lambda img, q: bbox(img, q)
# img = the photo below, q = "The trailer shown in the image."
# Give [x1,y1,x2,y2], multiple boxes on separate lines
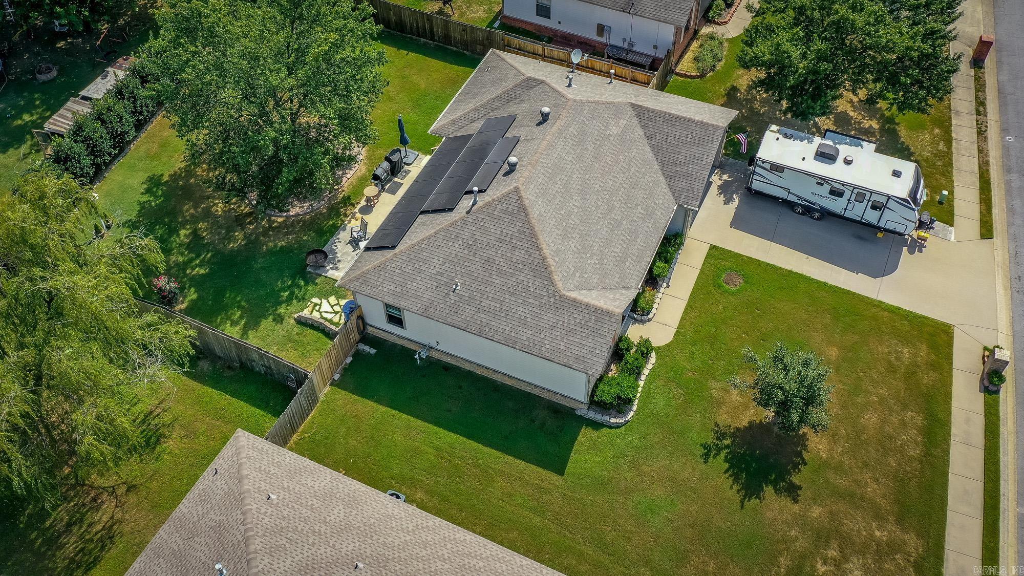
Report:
[744,125,946,240]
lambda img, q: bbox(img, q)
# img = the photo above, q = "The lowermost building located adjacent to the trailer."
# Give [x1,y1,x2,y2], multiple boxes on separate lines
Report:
[334,48,739,407]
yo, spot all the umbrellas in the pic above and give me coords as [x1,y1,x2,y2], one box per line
[402,114,424,166]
